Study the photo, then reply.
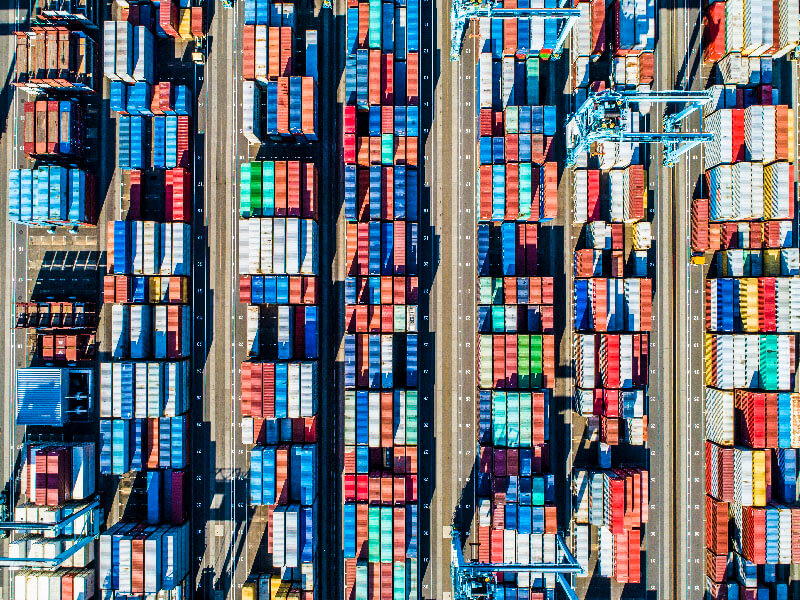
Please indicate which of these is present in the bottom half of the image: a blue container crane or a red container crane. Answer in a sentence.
Visible in the bottom half of the image is a blue container crane.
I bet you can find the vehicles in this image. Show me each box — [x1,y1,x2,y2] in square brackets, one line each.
[691,252,707,266]
[192,32,207,70]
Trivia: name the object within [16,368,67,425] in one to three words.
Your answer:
shed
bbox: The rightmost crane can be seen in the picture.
[566,88,713,170]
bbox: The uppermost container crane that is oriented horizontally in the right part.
[452,0,583,62]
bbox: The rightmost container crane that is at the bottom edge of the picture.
[452,527,583,600]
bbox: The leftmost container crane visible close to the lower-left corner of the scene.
[0,491,104,574]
